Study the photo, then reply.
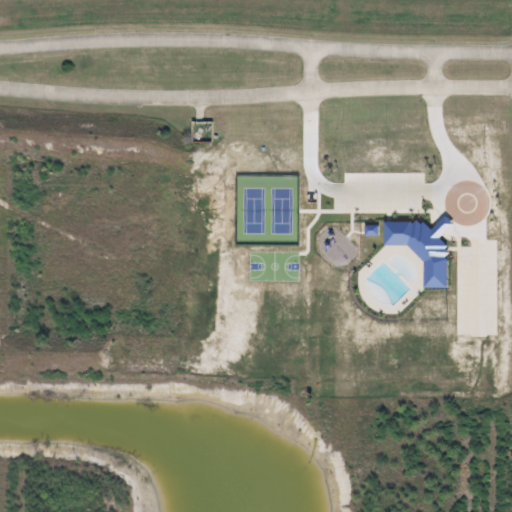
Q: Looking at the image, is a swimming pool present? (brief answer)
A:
Yes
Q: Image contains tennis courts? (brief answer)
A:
Yes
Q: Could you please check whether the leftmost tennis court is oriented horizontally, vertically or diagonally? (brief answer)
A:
vertically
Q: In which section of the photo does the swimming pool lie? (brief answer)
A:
right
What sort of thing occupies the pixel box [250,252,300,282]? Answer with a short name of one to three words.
basketball court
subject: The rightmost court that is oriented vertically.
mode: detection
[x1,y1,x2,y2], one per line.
[268,172,299,244]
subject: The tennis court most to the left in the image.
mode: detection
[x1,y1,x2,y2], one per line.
[236,172,268,244]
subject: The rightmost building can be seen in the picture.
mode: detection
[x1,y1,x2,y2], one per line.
[384,216,452,288]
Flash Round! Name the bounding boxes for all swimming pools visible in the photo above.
[358,245,424,315]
